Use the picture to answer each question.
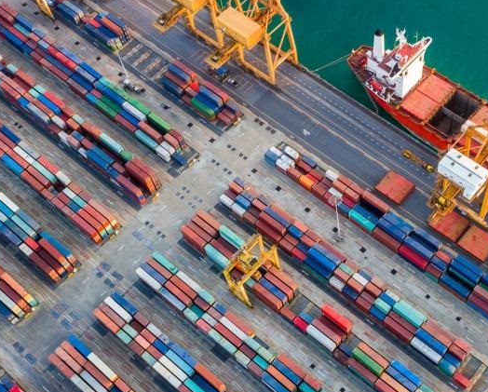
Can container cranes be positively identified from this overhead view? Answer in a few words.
Yes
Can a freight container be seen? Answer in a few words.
Yes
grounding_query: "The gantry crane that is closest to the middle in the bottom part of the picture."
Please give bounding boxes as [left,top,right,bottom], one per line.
[224,236,284,308]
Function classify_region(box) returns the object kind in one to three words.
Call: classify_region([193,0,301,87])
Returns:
container crane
